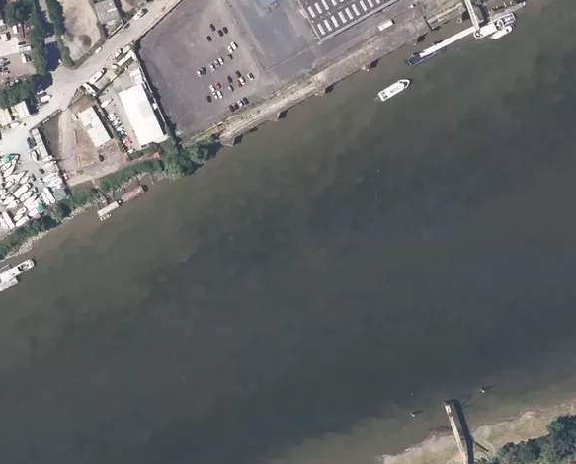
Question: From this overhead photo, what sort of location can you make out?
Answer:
port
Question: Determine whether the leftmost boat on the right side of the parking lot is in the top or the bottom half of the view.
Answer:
top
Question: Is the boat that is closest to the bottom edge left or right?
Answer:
left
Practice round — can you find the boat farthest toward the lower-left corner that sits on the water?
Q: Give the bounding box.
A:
[0,260,34,282]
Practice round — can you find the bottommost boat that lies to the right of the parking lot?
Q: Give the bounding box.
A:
[378,80,409,102]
